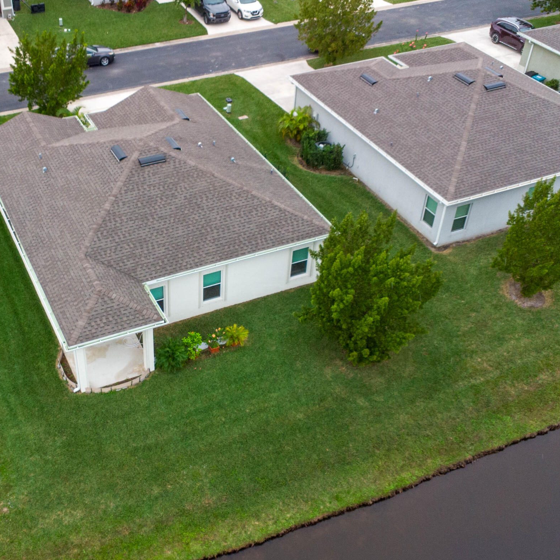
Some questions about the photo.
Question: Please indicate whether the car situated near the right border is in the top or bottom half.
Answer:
top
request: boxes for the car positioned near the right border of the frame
[490,17,537,51]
